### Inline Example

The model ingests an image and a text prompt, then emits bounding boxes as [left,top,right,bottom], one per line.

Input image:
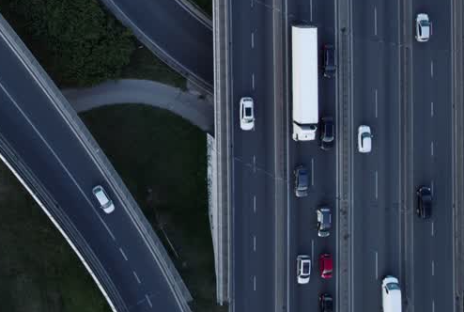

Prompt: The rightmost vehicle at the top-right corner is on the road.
[415,13,431,41]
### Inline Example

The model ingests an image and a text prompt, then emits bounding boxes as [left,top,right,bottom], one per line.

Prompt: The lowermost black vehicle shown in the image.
[318,291,334,312]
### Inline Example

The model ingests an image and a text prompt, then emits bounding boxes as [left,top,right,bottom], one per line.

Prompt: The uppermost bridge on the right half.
[203,0,457,229]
